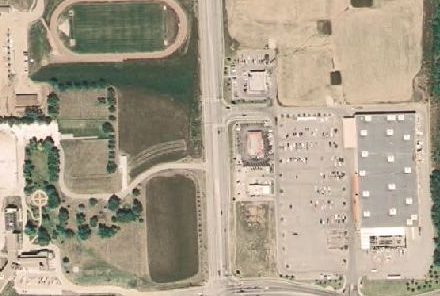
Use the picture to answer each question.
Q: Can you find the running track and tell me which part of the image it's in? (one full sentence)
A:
The running track is located in the top left region of the scene.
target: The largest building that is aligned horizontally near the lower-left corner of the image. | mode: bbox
[18,257,48,270]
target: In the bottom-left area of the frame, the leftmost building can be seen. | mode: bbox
[6,207,22,235]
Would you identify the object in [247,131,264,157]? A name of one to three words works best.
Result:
building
